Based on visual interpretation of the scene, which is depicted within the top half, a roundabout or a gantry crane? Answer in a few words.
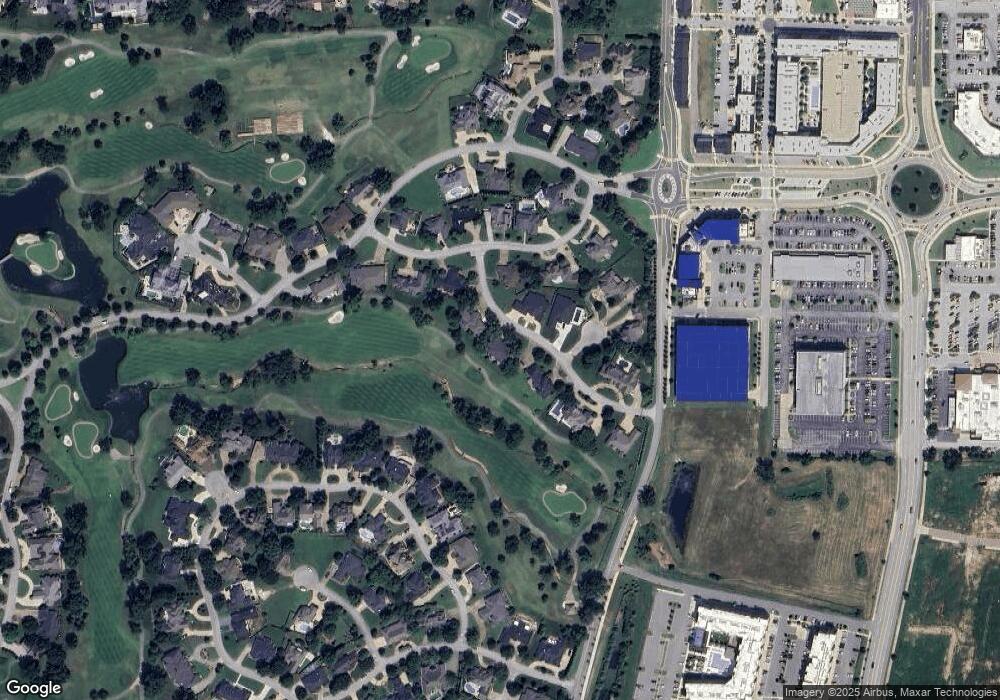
roundabout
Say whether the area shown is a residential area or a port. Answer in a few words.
residential area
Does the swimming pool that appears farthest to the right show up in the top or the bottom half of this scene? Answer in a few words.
top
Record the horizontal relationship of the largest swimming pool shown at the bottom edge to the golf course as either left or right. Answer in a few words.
on the right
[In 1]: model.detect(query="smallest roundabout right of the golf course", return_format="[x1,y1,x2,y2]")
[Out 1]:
[650,165,683,211]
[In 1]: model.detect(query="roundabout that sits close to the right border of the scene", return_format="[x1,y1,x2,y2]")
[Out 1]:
[881,154,954,226]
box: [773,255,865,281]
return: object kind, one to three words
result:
building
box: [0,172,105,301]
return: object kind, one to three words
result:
pond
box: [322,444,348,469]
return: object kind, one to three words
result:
house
